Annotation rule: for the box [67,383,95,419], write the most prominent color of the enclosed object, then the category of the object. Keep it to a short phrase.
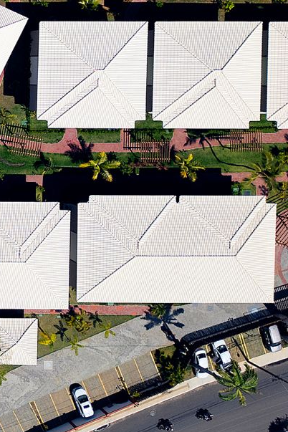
white car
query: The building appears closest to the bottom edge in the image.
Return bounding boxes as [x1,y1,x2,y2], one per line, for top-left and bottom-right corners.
[0,318,38,366]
